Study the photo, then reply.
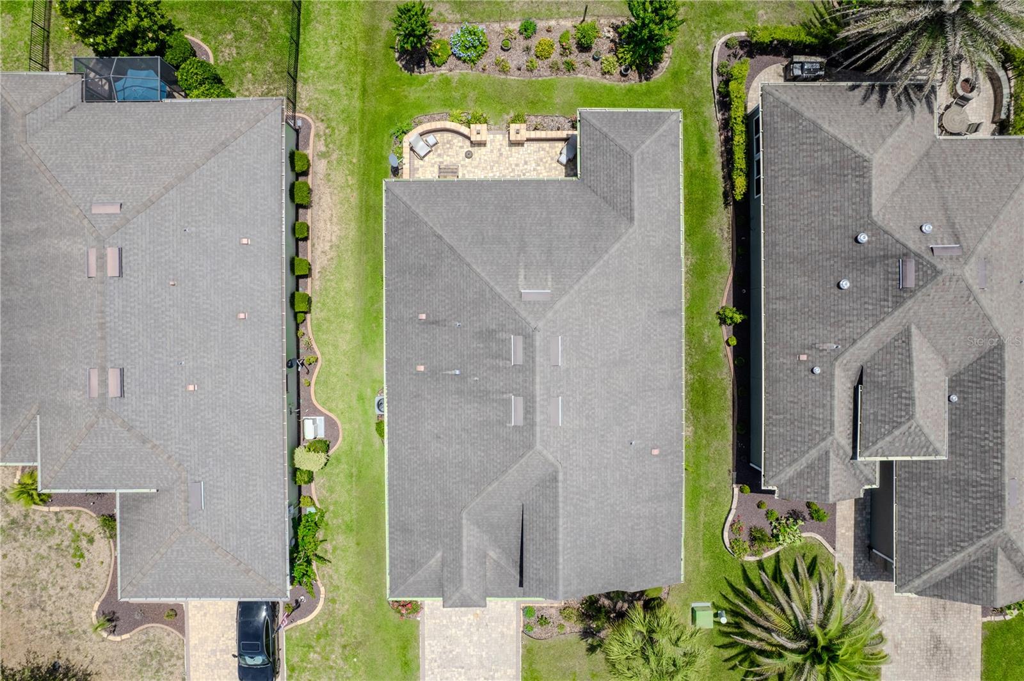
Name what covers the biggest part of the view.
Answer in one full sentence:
The scene is dominated by buildings.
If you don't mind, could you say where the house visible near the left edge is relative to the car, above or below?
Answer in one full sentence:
The house visible near the left edge is above the car.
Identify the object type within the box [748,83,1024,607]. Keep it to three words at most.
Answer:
house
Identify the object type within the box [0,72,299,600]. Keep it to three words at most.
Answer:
house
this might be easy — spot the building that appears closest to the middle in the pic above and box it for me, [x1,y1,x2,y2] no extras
[384,109,684,608]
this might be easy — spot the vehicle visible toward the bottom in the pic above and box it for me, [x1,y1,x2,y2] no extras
[235,600,284,681]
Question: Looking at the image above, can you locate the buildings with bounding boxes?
[748,83,1024,607]
[0,72,299,600]
[384,109,684,608]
